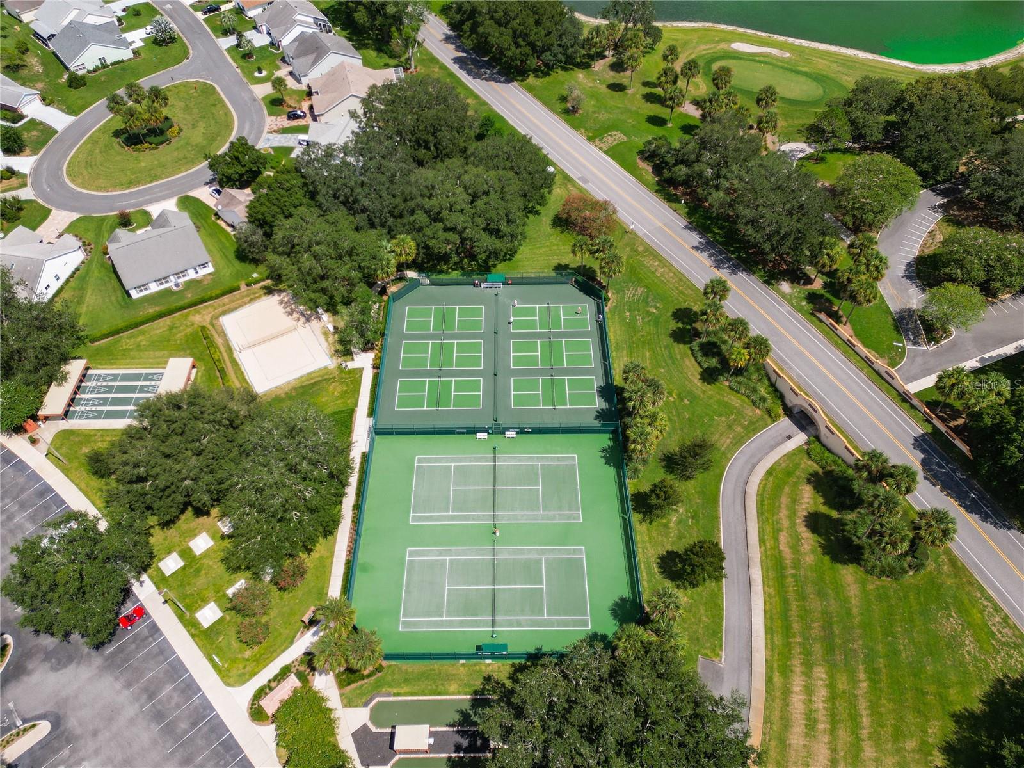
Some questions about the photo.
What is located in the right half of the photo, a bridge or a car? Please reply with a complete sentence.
You can see a bridge in the right half of the photo.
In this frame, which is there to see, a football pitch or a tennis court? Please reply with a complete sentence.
Of the two, only a tennis court appears.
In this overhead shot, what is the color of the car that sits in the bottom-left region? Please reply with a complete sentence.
The car that sits in the bottom-left region looks red in the image.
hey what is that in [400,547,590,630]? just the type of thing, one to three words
tennis court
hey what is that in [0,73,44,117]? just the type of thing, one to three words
house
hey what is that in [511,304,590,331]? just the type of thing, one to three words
sports court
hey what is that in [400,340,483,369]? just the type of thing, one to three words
sports court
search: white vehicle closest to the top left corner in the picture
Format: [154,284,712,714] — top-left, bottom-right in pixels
[141,22,157,34]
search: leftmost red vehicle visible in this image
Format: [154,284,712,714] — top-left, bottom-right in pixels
[114,604,148,630]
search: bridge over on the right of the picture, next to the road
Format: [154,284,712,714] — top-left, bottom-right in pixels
[759,354,868,473]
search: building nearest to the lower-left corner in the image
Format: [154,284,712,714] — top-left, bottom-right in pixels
[259,674,303,720]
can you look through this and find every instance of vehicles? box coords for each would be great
[200,4,221,14]
[141,22,157,34]
[298,134,309,145]
[114,604,148,630]
[206,184,223,197]
[285,109,306,119]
